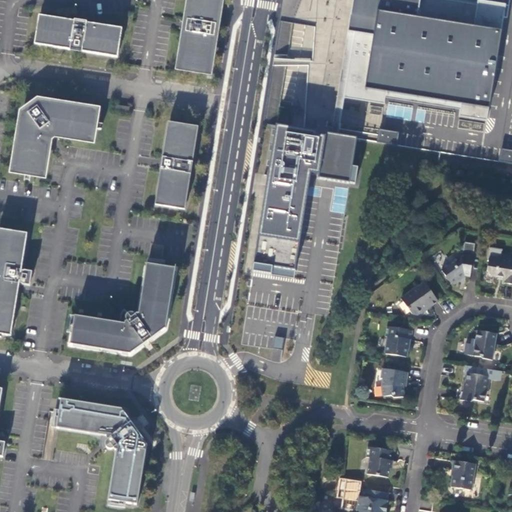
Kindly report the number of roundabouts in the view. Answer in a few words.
1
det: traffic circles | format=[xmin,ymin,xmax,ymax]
[156,352,235,432]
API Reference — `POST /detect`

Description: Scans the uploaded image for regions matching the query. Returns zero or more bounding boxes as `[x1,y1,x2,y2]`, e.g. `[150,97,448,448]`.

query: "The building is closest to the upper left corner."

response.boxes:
[33,12,124,61]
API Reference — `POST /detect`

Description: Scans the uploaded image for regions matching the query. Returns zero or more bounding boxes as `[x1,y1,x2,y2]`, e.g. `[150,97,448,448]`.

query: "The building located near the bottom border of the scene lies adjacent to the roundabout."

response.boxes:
[54,397,149,512]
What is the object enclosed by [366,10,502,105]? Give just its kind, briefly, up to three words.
building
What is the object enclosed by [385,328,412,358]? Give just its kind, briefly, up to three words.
house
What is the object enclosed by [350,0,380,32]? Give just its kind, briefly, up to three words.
building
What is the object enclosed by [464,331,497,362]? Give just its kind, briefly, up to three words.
house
